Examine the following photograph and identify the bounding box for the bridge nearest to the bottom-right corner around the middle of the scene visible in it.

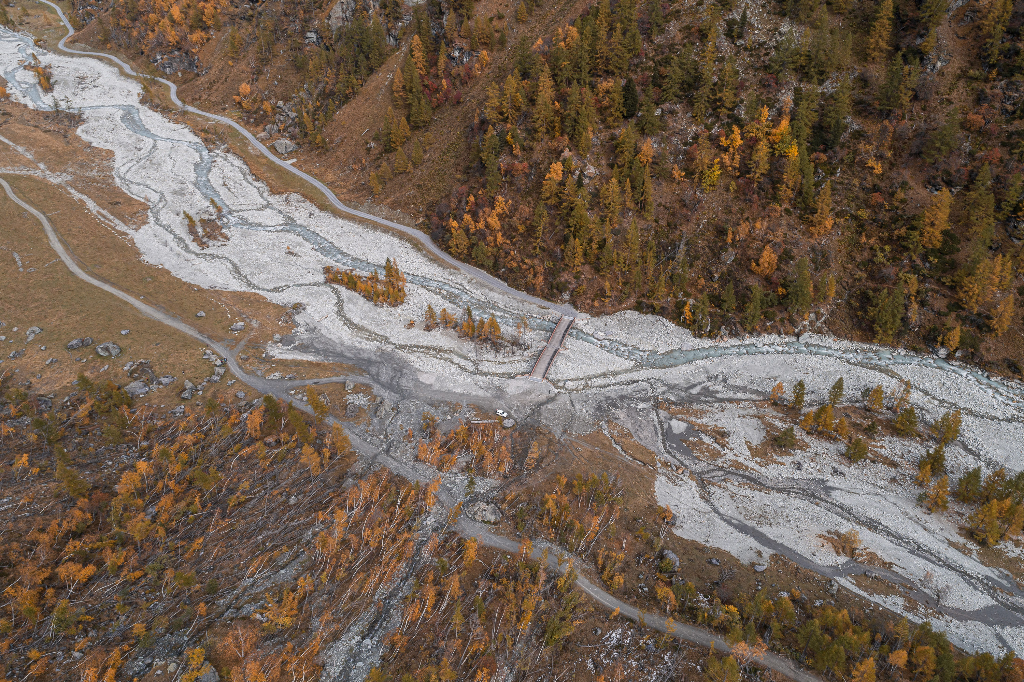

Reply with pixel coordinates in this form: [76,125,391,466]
[522,313,581,388]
